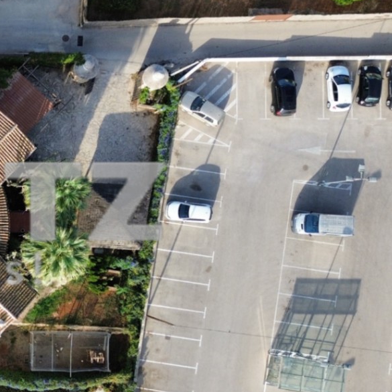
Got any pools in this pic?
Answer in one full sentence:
No, no pool is visible in the view.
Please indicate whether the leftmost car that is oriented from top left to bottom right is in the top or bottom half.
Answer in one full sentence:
The top half of the photo is where the leftmost car that is oriented from top left to bottom right is.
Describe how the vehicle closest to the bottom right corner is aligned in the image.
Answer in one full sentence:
The vehicle closest to the bottom right corner is oriented horizontally.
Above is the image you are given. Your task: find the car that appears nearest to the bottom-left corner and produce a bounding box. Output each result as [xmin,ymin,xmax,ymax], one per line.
[161,200,211,223]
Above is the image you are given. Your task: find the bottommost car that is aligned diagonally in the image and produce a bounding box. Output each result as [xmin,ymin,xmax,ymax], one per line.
[176,91,226,130]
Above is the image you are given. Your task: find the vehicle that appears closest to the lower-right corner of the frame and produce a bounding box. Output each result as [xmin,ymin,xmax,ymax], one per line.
[284,210,355,237]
